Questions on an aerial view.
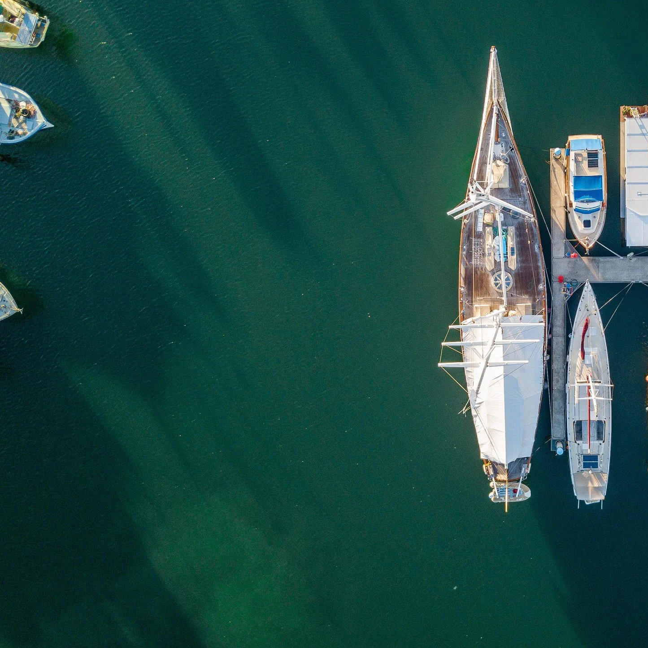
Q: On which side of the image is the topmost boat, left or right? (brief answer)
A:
left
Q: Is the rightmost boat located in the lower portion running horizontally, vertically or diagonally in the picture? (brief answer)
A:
vertically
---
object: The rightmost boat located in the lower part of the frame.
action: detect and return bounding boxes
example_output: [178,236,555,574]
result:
[566,280,614,509]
